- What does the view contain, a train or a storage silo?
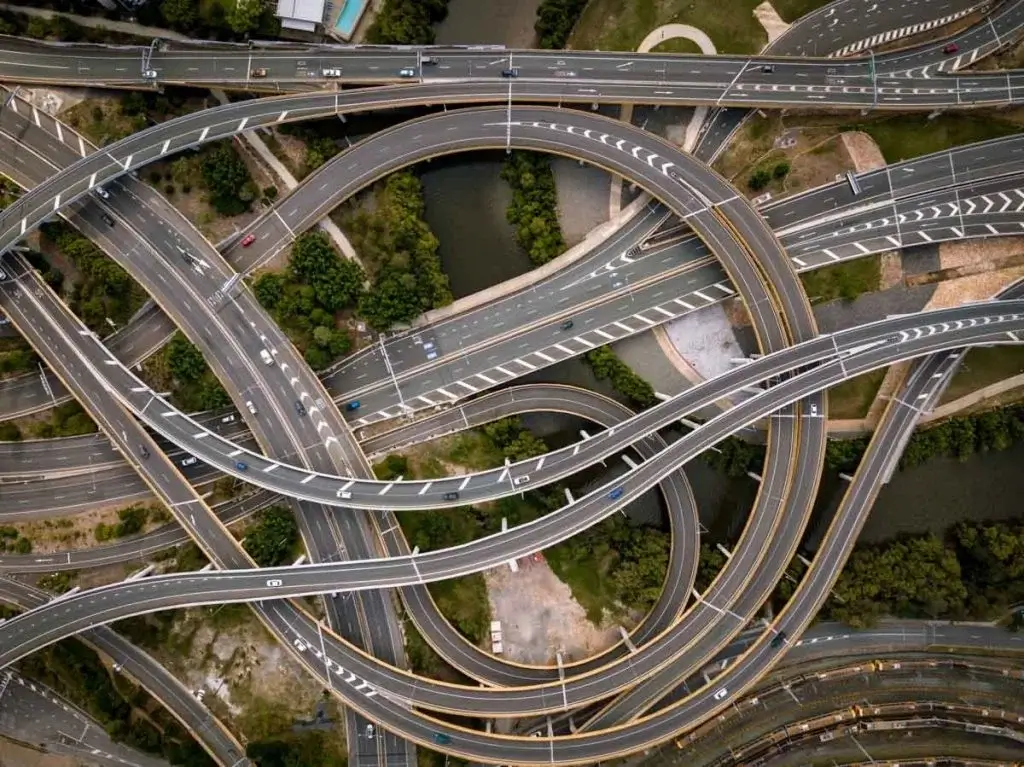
train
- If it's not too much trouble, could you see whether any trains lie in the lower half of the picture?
Yes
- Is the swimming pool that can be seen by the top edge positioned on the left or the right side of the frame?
left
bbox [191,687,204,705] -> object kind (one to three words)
vehicle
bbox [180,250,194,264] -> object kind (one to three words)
car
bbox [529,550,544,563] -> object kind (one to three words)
vehicle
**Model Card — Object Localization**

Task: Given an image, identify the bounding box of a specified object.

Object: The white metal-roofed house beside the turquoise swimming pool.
[274,0,325,32]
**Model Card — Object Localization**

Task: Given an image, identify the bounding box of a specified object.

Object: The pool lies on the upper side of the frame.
[318,0,375,43]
